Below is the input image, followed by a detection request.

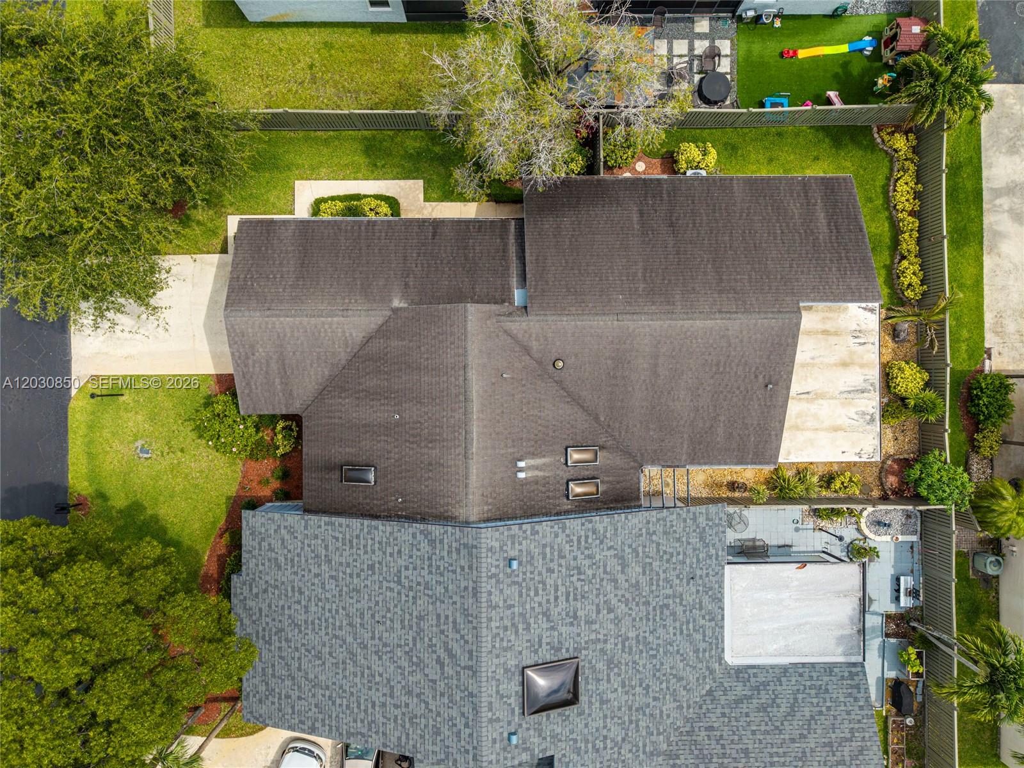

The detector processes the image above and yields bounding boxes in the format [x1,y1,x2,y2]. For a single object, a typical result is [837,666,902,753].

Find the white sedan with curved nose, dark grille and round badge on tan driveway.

[277,741,329,768]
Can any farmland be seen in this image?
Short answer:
No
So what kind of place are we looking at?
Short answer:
residential area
